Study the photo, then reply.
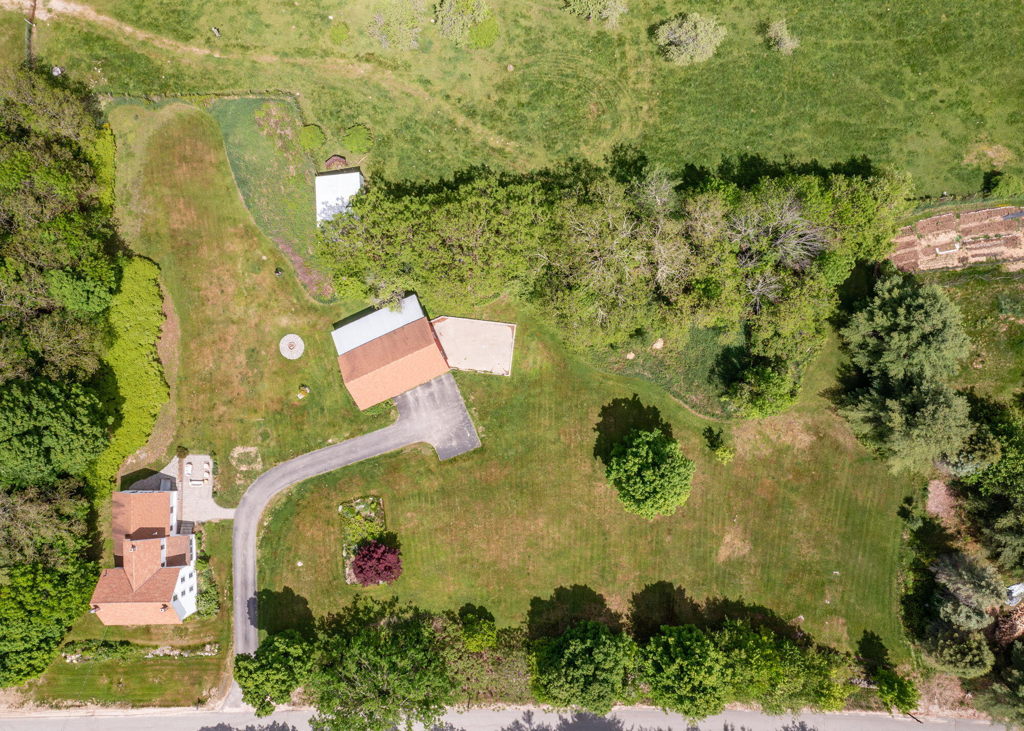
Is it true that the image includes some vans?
No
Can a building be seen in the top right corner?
No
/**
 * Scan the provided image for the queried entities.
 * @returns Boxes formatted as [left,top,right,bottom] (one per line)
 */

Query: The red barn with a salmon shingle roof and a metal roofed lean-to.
[332,297,450,411]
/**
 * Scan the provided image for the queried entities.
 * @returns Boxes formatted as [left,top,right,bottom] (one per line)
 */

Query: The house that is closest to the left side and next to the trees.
[89,490,197,625]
